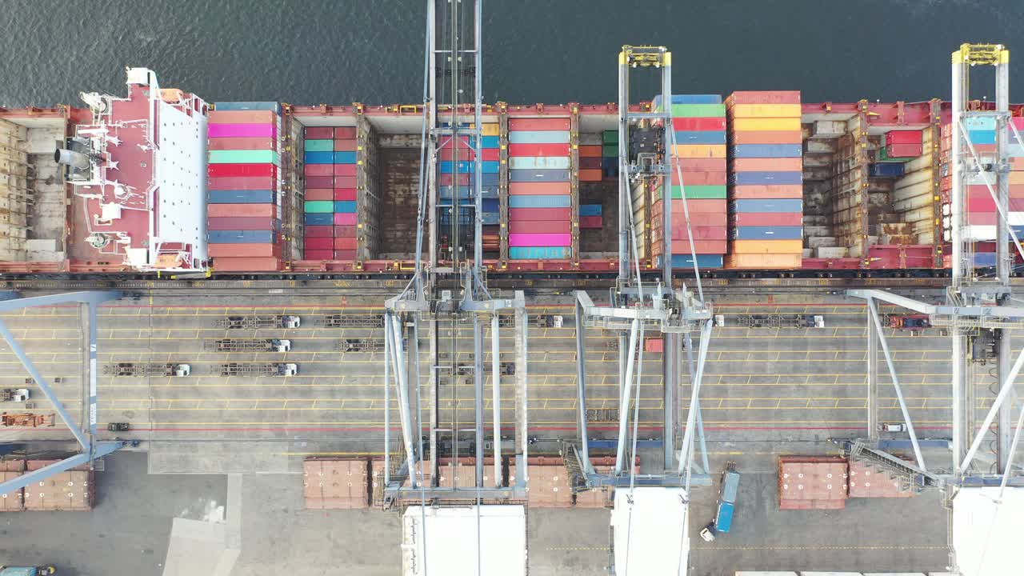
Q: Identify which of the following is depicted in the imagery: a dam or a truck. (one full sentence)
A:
It is a truck that can be seen here.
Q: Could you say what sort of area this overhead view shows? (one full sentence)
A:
It's a port.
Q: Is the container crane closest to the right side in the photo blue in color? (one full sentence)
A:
No, the container crane closest to the right side is actually white.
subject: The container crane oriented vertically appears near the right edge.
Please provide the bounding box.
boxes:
[825,39,1024,576]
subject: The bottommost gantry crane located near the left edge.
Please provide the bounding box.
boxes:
[0,291,144,494]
